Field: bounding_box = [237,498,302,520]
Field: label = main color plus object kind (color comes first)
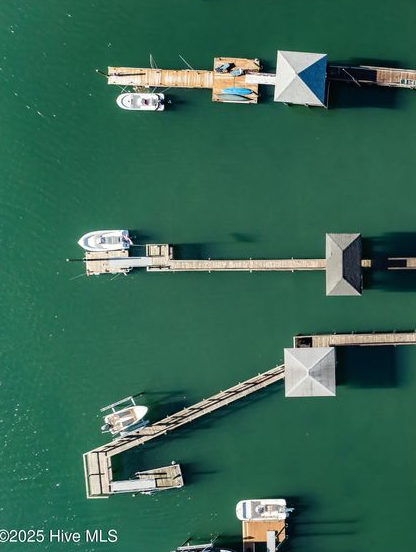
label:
white boat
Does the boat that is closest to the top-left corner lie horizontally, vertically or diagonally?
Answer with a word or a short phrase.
horizontally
